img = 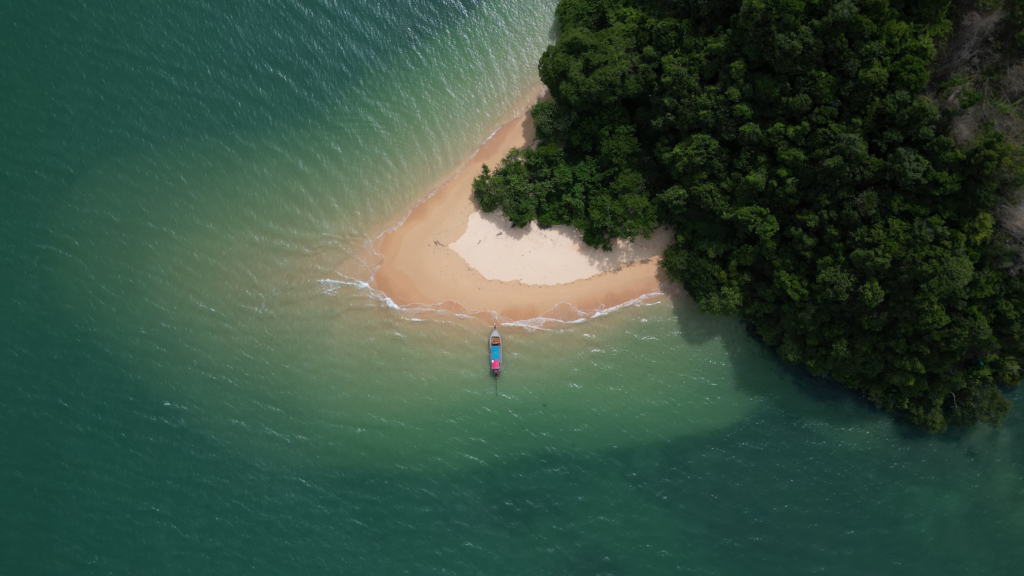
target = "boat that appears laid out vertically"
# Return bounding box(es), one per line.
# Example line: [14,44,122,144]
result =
[489,323,502,388]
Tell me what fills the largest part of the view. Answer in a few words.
water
